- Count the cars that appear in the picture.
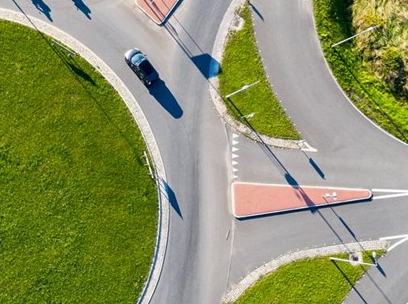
1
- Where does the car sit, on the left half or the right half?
left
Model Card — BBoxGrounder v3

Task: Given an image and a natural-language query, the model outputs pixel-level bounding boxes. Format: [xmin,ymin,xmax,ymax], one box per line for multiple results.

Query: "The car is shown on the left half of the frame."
[127,49,158,87]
